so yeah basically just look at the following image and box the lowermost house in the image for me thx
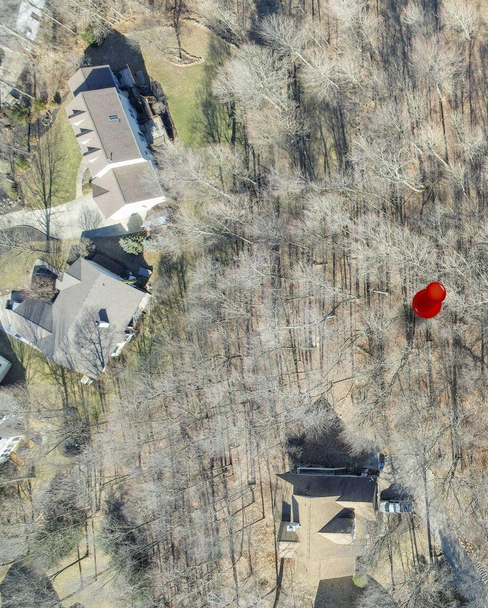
[274,462,383,582]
